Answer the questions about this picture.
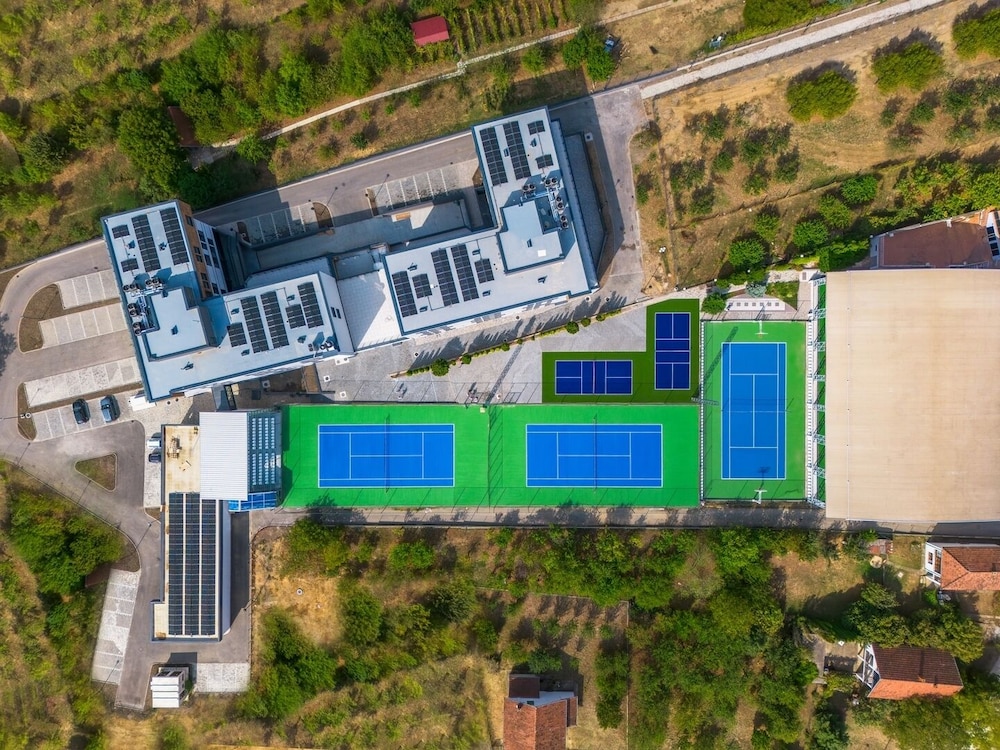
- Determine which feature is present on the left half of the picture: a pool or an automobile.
automobile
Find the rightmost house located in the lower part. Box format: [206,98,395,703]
[916,537,1000,591]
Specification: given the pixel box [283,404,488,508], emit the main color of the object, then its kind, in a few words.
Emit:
green tennis court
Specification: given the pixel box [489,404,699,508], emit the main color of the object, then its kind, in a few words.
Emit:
green tennis court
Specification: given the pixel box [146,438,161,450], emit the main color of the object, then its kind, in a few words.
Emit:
white vehicle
